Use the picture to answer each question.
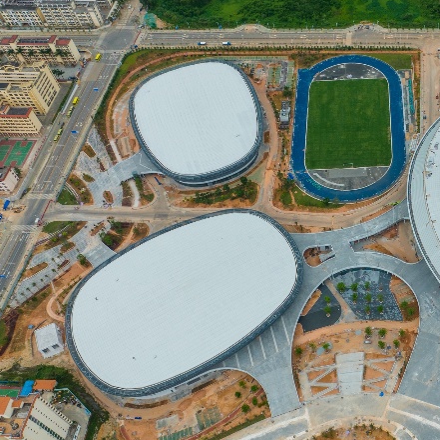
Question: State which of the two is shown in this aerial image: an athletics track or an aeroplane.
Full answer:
I can see an athletics track in this picture.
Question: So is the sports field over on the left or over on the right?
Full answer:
You can find the sports field on the right side of the picture.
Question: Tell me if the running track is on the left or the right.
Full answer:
The running track appears in the right half of the scene.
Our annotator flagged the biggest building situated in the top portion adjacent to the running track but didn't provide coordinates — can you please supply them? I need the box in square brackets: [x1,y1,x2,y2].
[128,59,264,190]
